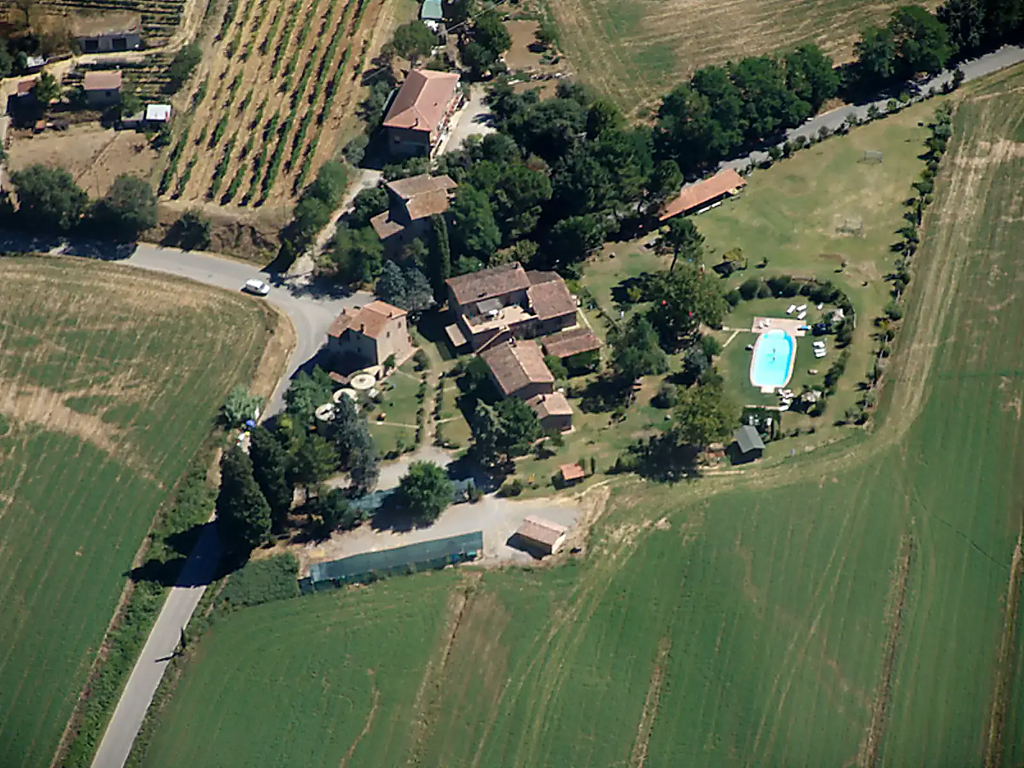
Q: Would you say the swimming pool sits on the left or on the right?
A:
right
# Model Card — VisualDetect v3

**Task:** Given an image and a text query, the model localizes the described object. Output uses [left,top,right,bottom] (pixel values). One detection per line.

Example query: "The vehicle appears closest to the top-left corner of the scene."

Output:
[242,277,270,294]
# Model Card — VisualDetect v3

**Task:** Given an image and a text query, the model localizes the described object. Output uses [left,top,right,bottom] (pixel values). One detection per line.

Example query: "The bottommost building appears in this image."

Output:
[517,515,566,554]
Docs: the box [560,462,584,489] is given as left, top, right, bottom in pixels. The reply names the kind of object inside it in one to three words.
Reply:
shed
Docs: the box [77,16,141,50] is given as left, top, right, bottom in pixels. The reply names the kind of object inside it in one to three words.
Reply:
building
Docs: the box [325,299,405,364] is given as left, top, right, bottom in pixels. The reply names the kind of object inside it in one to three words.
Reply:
house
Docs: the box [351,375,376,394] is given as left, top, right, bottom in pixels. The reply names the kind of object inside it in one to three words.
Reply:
umbrella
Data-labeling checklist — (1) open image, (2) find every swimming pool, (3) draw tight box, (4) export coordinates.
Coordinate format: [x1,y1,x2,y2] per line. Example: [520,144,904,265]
[751,317,806,393]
